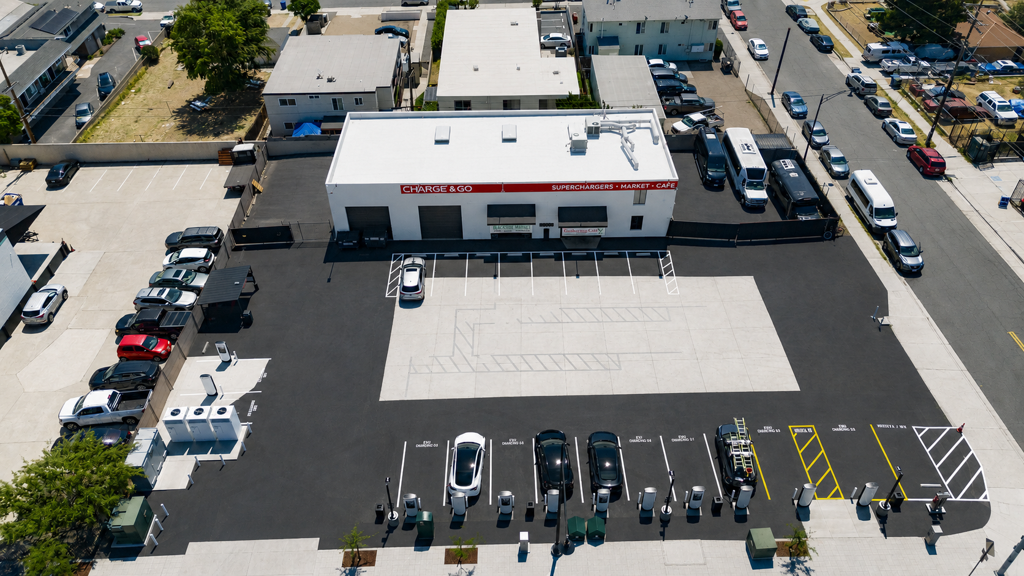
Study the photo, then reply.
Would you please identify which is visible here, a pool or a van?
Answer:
van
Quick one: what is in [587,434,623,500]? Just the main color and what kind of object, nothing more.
black car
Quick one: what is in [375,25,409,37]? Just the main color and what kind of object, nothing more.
blue vehicle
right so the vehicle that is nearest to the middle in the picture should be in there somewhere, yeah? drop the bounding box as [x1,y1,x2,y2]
[398,257,427,302]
